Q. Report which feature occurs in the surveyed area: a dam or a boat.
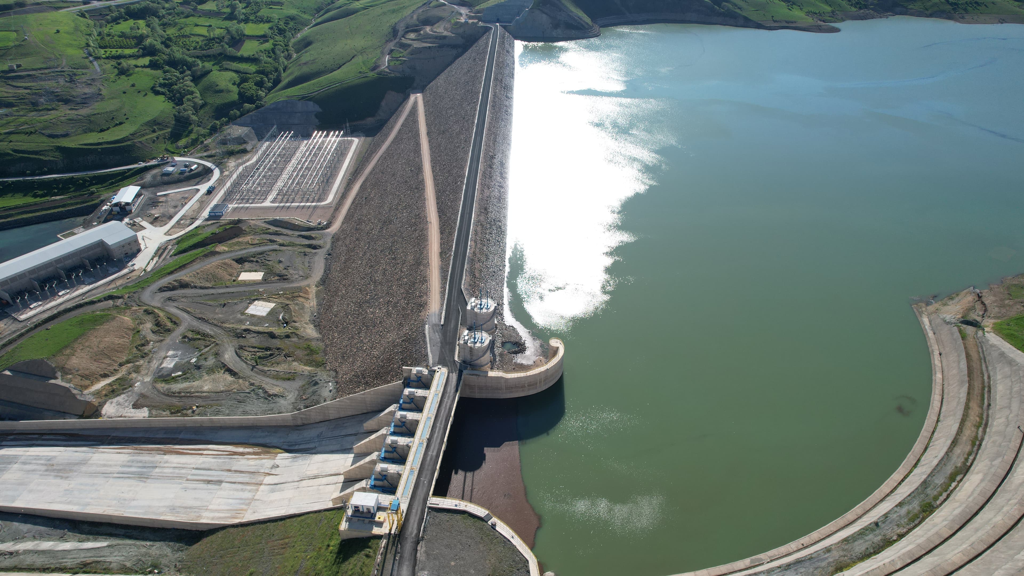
dam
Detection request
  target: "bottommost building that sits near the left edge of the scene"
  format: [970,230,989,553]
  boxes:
[0,221,145,299]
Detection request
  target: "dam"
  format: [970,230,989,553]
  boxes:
[313,25,542,399]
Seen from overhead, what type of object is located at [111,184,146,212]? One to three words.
shed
